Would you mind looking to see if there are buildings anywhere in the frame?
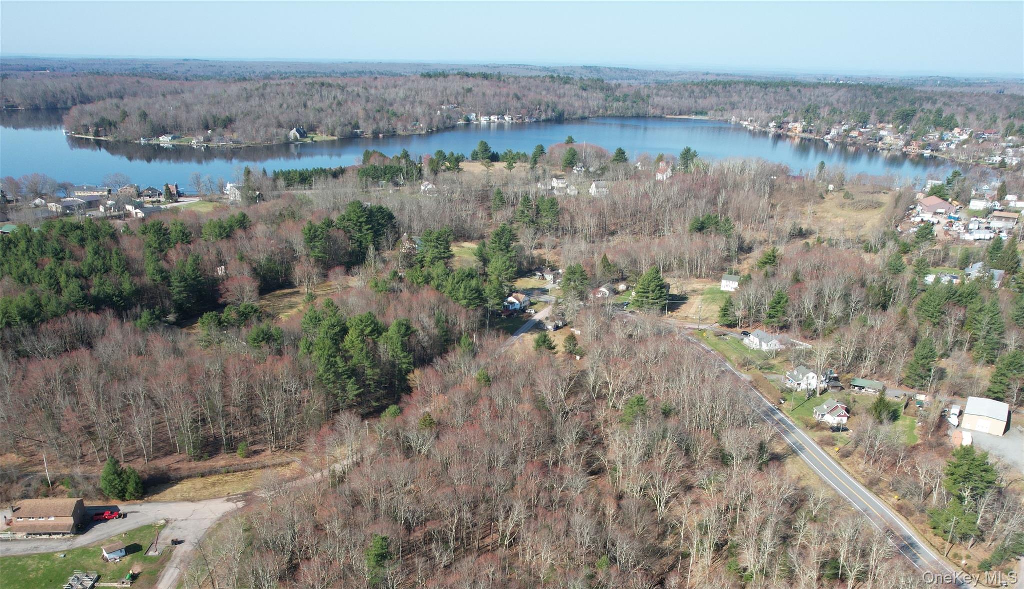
Yes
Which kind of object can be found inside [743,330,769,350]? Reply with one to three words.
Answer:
house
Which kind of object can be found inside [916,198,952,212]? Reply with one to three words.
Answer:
building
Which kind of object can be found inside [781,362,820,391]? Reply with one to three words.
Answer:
house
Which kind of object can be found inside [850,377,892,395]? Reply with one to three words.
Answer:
shed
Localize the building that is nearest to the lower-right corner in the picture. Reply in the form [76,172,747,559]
[961,395,1011,438]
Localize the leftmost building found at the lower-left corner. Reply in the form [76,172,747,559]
[3,495,95,544]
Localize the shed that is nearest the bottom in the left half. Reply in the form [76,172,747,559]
[100,539,127,562]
